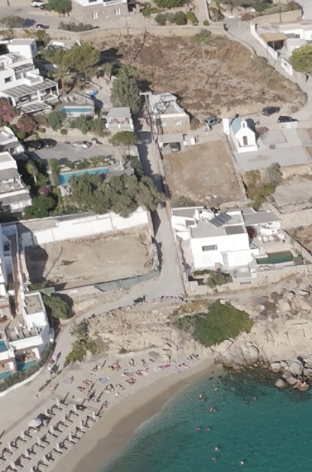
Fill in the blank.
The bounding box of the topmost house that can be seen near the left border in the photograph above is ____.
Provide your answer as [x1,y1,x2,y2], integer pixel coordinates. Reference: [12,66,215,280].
[0,39,60,117]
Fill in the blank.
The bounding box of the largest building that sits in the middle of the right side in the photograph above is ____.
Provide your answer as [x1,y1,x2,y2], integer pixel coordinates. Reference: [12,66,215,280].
[172,207,297,281]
